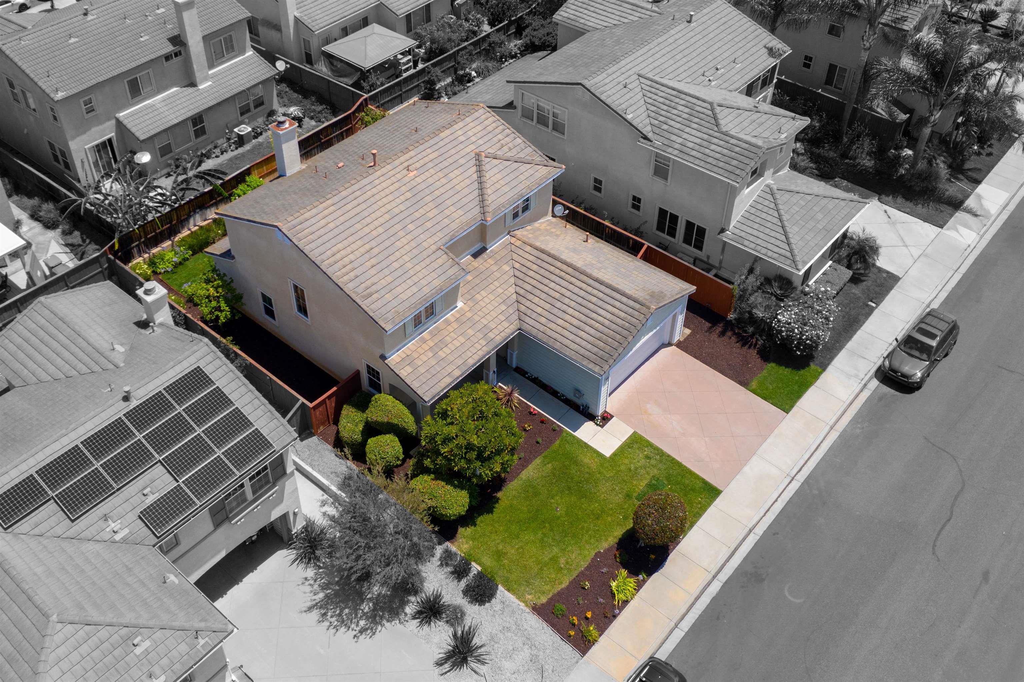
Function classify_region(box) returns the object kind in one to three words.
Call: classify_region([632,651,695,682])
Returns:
car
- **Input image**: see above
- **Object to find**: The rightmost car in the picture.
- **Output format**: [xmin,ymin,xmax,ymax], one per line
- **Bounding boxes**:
[888,300,967,384]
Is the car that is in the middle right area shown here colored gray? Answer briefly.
Yes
